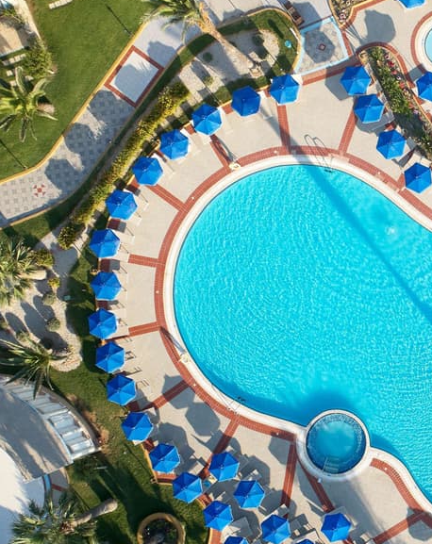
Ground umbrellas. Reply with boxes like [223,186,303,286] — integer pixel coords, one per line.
[206,497,235,531]
[223,534,250,544]
[262,510,291,544]
[191,103,224,135]
[123,408,154,443]
[402,161,432,196]
[90,307,121,339]
[107,187,139,222]
[397,0,425,11]
[107,371,139,404]
[135,155,164,187]
[419,71,432,102]
[175,470,205,502]
[377,131,408,162]
[163,130,194,162]
[355,92,386,127]
[270,73,300,107]
[209,450,242,482]
[96,340,129,375]
[92,268,126,302]
[152,440,183,472]
[231,87,263,119]
[323,509,353,542]
[234,476,265,510]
